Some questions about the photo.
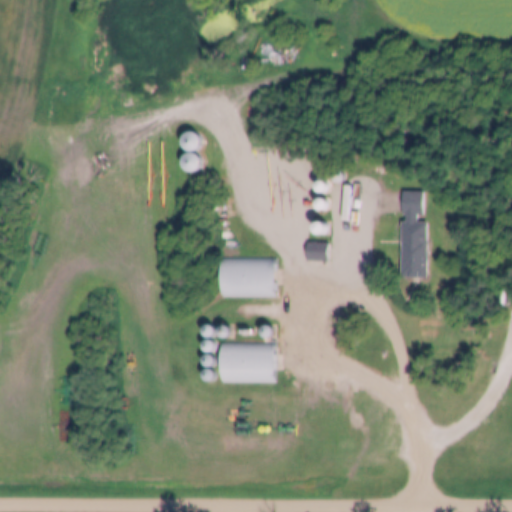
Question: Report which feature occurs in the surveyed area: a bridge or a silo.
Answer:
silo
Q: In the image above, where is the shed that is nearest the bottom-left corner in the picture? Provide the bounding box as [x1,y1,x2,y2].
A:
[222,344,285,385]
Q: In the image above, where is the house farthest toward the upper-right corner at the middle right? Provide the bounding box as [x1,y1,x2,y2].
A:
[400,190,431,282]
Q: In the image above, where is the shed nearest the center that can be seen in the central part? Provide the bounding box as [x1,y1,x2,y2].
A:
[222,259,285,298]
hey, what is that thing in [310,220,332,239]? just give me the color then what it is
white silo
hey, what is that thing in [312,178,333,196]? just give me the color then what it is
white silo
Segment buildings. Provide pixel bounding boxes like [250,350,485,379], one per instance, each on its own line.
[222,259,285,298]
[305,244,331,262]
[222,344,285,385]
[400,190,431,282]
